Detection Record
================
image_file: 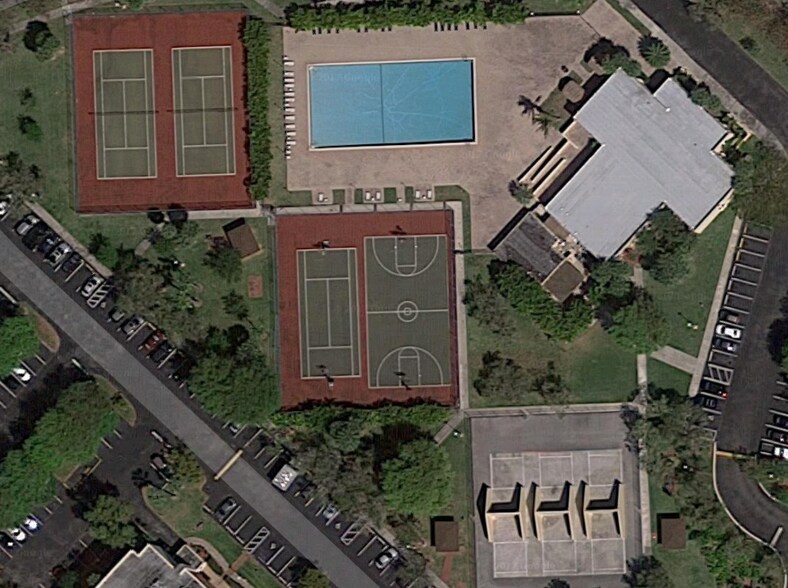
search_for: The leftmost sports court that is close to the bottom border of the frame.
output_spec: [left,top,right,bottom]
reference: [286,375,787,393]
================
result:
[486,453,527,577]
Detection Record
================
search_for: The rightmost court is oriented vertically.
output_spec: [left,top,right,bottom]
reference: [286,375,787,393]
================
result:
[583,449,625,575]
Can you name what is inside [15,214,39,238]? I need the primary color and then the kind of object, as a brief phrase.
gray car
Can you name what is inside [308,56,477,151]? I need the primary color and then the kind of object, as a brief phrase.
blue swimming pool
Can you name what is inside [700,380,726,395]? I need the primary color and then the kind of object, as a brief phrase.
black car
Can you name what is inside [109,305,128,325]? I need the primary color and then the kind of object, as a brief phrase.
gray car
